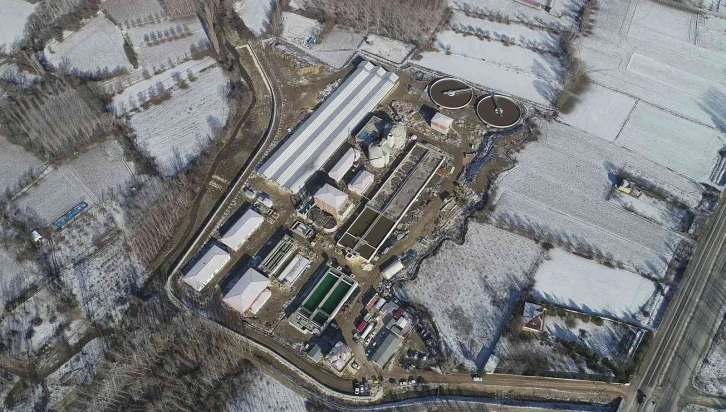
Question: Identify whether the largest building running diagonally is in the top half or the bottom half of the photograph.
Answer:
top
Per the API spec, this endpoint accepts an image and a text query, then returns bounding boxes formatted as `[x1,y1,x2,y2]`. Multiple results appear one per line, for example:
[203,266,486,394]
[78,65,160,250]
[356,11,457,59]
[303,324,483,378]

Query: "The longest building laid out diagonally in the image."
[258,63,397,198]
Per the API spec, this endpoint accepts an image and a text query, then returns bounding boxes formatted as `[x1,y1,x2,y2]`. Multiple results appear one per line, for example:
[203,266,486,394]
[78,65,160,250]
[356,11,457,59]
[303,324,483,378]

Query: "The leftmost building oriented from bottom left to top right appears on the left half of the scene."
[183,245,232,294]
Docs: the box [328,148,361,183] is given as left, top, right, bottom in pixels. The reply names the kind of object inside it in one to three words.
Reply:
building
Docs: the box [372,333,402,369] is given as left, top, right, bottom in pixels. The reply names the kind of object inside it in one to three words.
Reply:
shed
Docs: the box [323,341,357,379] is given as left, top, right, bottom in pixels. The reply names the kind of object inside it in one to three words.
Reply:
house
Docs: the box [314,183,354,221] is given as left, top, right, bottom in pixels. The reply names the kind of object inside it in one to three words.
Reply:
building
